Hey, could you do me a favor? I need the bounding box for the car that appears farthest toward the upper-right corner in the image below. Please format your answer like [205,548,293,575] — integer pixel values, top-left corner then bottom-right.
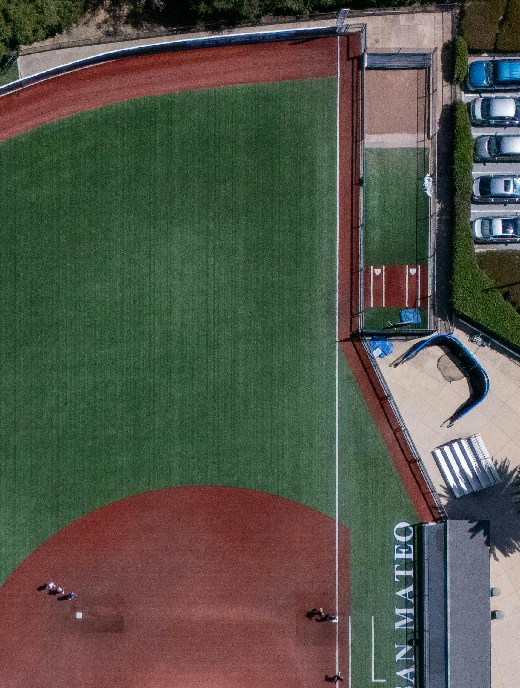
[467,54,520,92]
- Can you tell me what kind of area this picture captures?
sports ground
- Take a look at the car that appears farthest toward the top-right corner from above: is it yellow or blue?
blue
